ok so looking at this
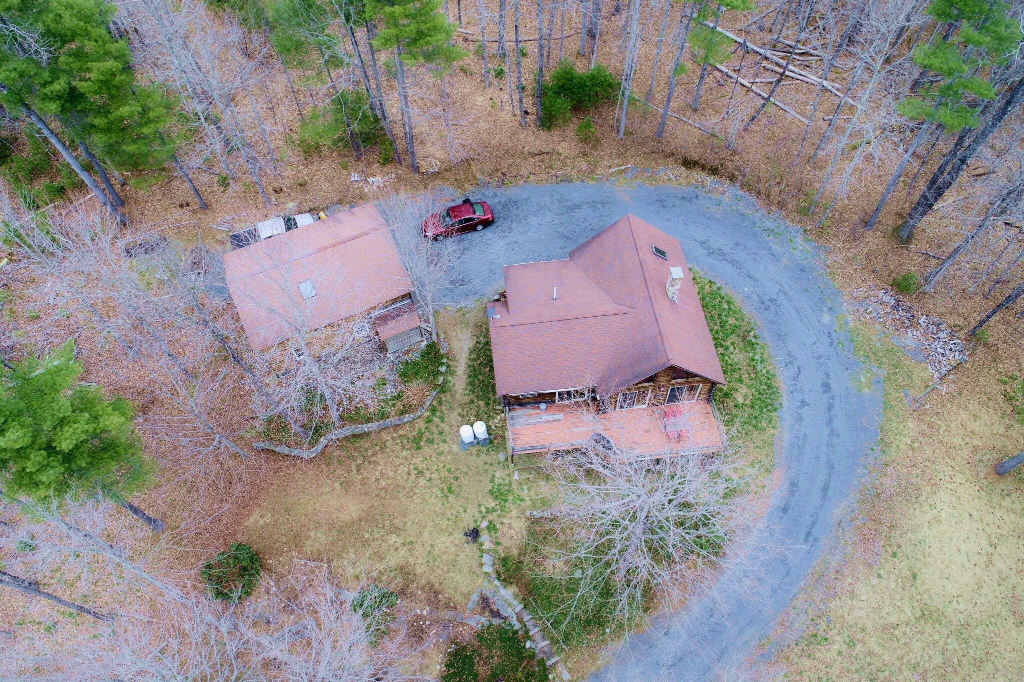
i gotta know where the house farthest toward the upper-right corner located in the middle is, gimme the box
[488,212,727,417]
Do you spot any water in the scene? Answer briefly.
No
